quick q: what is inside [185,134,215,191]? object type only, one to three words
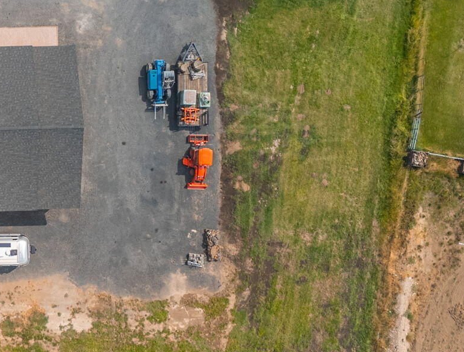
work vehicle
